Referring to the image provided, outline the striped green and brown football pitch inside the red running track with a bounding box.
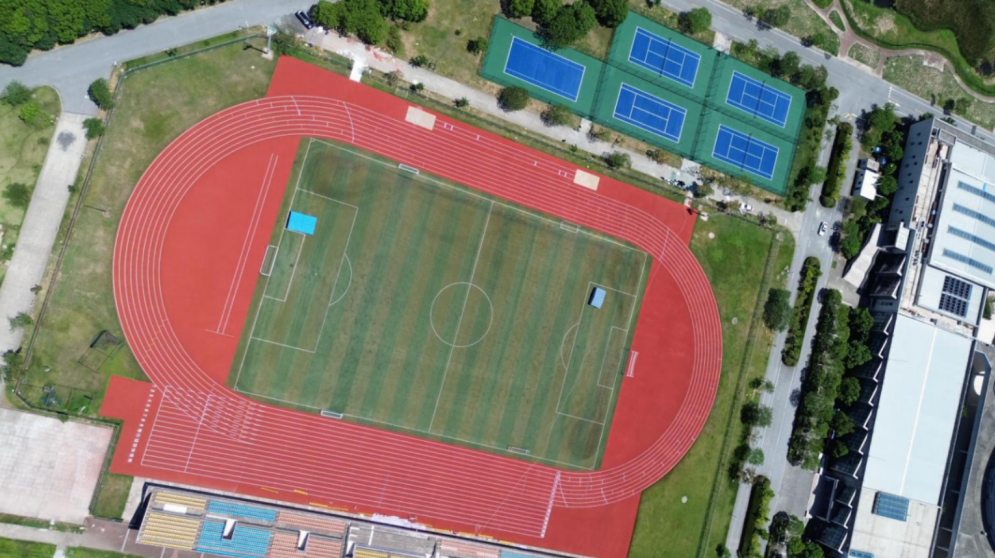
[226,137,653,471]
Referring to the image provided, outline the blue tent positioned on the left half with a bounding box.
[287,211,316,234]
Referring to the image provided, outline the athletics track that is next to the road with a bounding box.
[98,52,723,558]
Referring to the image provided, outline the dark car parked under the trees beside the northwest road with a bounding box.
[296,11,313,28]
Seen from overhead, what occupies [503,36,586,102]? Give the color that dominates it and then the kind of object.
blue tennis court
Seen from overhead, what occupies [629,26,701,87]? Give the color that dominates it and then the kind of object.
blue tennis court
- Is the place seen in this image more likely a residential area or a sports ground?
sports ground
